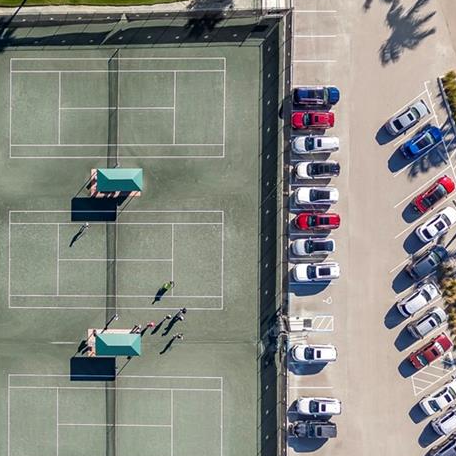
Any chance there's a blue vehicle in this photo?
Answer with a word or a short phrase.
Yes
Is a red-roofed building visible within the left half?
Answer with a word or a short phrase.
No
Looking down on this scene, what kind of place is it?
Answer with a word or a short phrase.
sports ground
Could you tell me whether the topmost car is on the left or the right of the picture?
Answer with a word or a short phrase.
right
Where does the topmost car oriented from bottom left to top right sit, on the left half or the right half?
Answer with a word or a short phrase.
right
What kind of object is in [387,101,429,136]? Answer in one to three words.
car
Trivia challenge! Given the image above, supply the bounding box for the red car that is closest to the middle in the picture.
[295,211,340,231]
